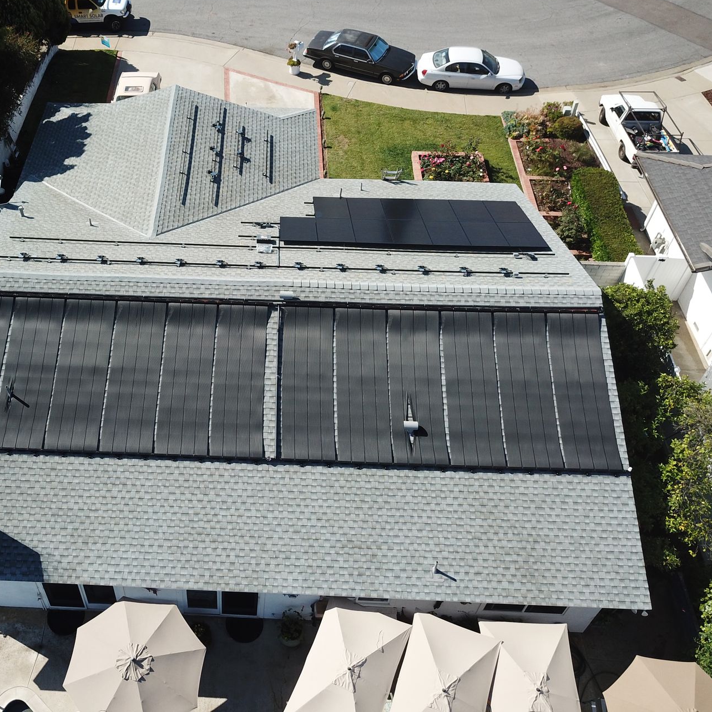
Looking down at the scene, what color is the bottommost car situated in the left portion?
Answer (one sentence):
In this view, the bottommost car situated in the left portion is white.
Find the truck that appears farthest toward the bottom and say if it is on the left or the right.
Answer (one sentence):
It is on the right.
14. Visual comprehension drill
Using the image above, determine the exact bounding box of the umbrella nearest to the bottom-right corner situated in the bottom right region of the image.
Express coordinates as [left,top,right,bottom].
[603,655,712,712]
